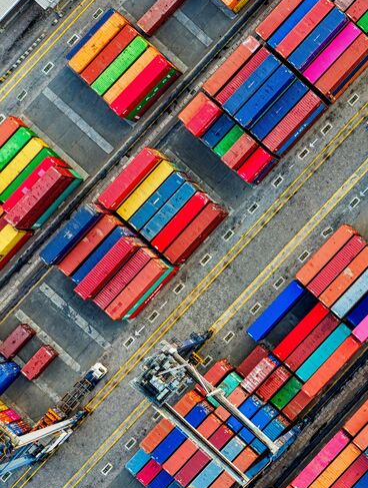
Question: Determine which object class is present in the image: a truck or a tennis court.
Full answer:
Looking from above, you can make out a truck.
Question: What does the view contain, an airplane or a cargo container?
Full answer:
I can see a cargo container in this picture.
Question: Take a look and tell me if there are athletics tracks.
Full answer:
No, no athletics track is visible in the view.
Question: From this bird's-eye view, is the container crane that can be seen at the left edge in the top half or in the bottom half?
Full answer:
The container crane that can be seen at the left edge is in the bottom half of the image.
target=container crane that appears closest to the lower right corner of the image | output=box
[119,329,311,488]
